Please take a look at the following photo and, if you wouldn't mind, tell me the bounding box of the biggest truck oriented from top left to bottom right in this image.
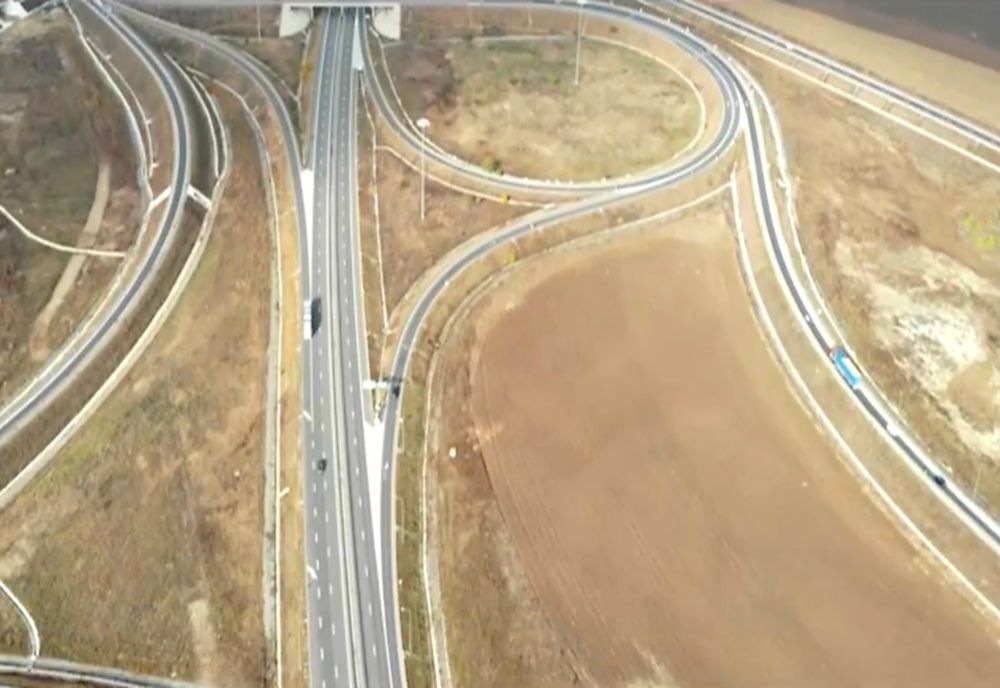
[831,355,862,387]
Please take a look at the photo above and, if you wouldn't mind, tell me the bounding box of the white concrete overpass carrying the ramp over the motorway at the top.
[280,1,405,40]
